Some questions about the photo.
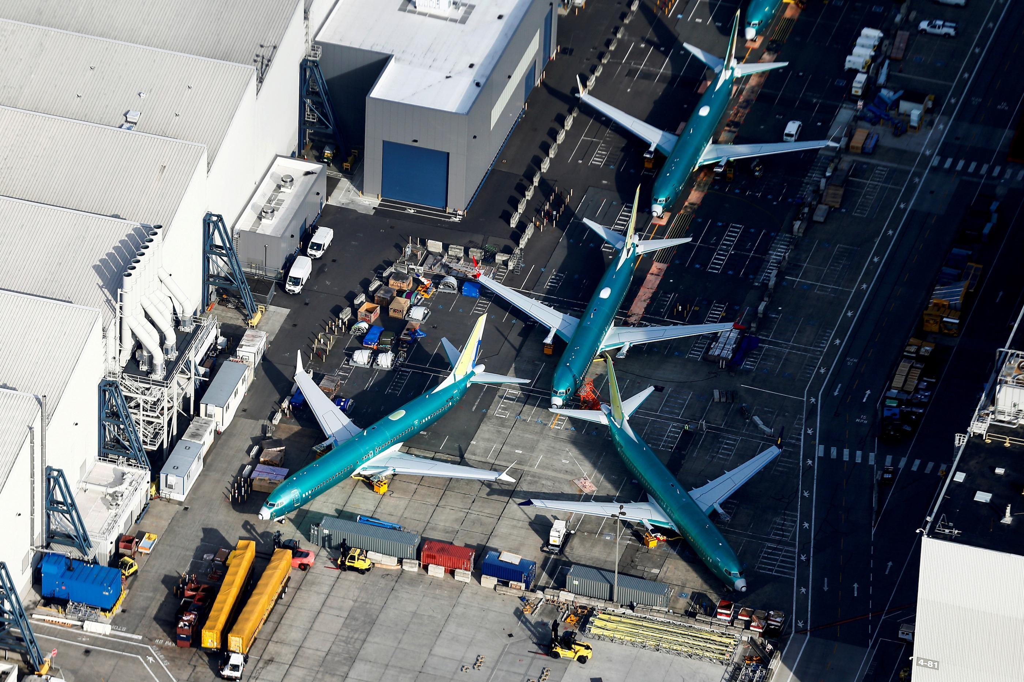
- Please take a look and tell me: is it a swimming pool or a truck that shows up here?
truck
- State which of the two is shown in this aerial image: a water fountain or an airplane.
airplane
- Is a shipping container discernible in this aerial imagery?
Yes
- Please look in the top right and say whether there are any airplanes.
Yes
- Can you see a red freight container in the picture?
Yes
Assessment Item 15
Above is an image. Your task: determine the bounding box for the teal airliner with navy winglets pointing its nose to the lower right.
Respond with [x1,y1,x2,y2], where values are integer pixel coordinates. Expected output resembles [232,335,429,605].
[518,353,784,592]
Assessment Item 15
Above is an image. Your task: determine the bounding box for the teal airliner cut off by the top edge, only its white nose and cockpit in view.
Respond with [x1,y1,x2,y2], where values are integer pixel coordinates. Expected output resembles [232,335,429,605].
[742,0,784,44]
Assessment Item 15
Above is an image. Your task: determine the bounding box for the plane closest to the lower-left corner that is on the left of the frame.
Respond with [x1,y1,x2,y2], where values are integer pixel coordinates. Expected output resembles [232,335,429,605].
[257,313,531,524]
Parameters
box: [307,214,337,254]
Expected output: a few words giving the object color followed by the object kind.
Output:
white van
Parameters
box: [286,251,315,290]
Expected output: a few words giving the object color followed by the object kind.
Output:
white van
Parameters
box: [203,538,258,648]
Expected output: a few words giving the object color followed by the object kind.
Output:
orange trailer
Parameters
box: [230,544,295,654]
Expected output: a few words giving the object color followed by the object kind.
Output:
orange trailer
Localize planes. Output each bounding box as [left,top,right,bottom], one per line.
[576,9,839,221]
[471,184,746,409]
[518,353,784,592]
[742,0,784,44]
[257,313,531,524]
